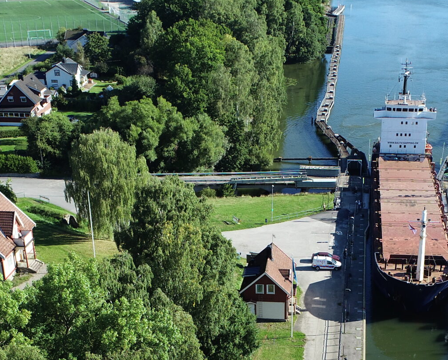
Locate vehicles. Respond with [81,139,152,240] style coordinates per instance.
[311,250,341,260]
[312,253,343,269]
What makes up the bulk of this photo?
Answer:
trees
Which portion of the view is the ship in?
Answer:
right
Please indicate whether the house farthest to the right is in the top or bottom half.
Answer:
bottom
